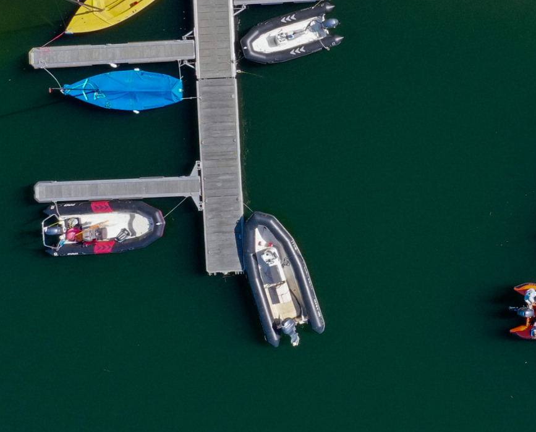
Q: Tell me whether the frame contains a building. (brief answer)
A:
No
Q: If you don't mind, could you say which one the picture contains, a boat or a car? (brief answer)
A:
boat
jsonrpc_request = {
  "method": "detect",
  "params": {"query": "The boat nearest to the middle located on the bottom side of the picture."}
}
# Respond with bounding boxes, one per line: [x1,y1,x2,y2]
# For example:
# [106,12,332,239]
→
[241,211,325,347]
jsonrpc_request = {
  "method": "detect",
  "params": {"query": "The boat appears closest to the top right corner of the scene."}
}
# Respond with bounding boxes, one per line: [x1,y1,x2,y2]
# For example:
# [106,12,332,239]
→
[239,2,344,64]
